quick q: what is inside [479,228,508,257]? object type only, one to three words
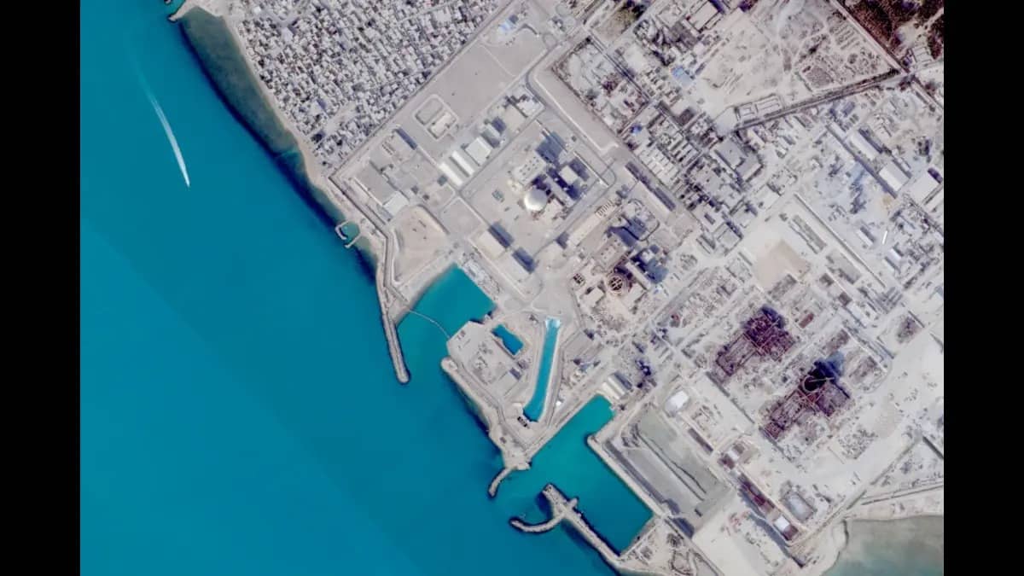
building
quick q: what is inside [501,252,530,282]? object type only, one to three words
building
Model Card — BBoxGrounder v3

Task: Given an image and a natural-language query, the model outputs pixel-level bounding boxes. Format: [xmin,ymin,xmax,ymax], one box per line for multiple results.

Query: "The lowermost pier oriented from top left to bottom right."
[545,485,624,570]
